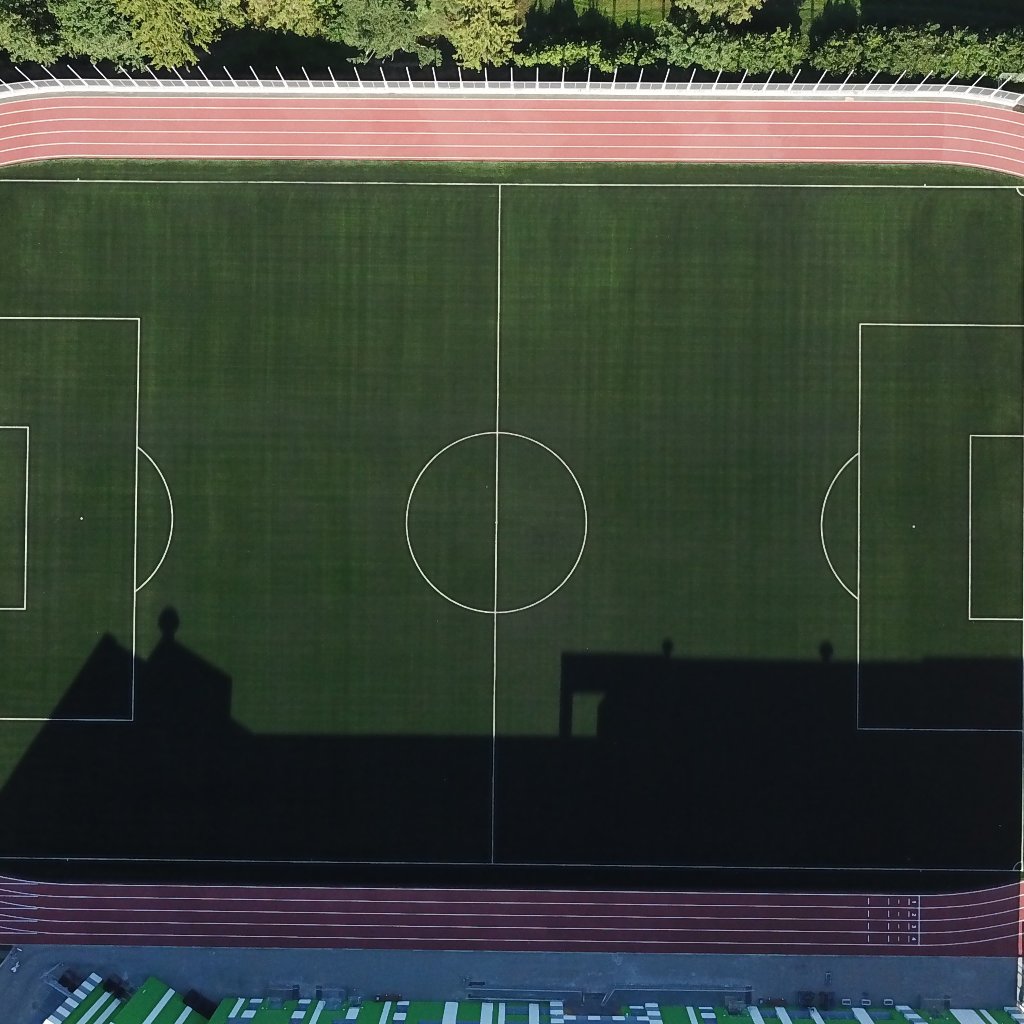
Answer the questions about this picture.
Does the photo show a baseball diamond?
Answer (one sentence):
No, this view has no baseball diamond in it.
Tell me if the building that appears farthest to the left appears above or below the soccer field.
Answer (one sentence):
Looking at the photo, you'll find the building that appears farthest to the left below the soccer field.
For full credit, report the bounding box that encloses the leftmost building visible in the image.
[44,971,130,1024]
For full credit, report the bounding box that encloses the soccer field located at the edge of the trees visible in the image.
[0,175,1024,876]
